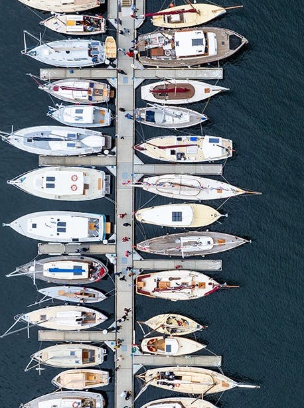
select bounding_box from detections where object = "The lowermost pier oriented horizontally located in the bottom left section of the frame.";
[37,321,115,351]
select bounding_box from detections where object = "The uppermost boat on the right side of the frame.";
[145,0,243,27]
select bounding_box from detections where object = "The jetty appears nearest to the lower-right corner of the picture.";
[133,345,222,377]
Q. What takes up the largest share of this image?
water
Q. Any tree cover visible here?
No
